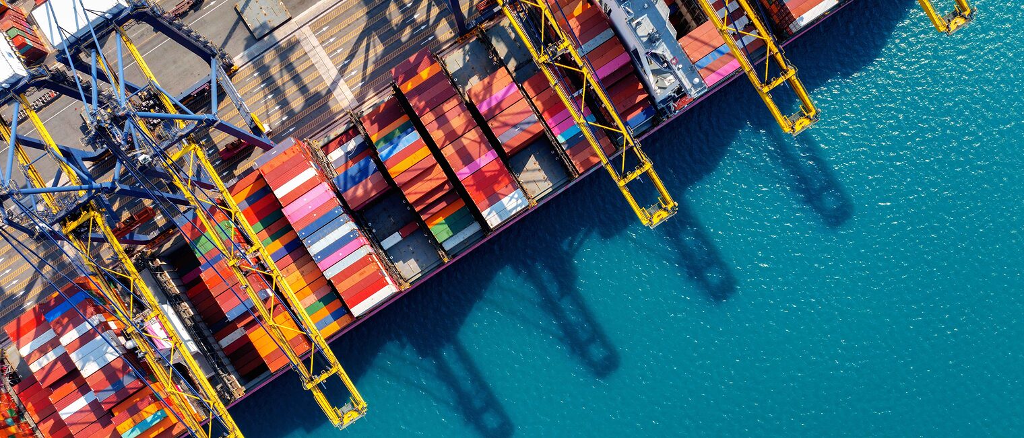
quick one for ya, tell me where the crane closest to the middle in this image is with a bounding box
[448,0,682,232]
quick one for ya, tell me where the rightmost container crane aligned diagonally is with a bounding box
[696,0,823,140]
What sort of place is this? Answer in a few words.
port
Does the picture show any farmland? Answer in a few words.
No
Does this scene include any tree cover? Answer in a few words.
No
